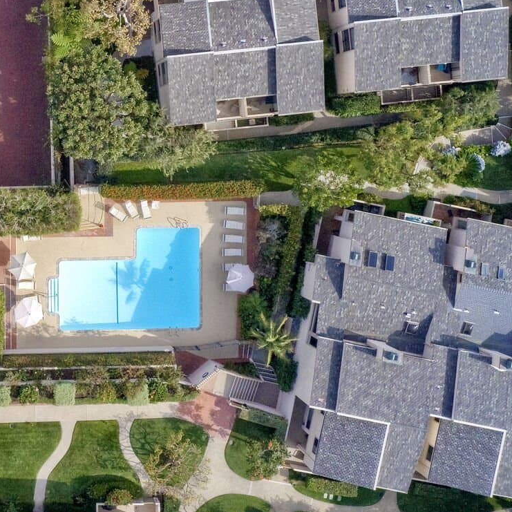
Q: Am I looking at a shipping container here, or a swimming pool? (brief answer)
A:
swimming pool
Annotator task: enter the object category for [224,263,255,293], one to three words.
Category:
umbrella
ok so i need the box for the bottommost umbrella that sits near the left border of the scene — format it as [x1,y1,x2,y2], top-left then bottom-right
[13,296,44,327]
